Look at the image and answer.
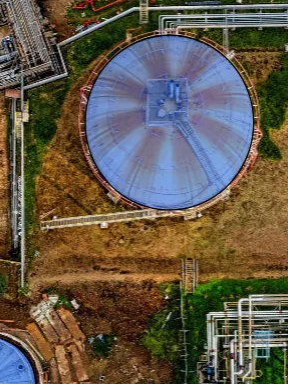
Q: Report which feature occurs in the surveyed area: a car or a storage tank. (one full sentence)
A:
The one in the frame is a storage tank.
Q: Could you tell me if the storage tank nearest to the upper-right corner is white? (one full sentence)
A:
No, the storage tank nearest to the upper-right corner is blue.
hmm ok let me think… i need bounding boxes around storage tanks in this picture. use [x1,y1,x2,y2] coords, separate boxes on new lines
[80,28,265,219]
[0,329,48,384]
